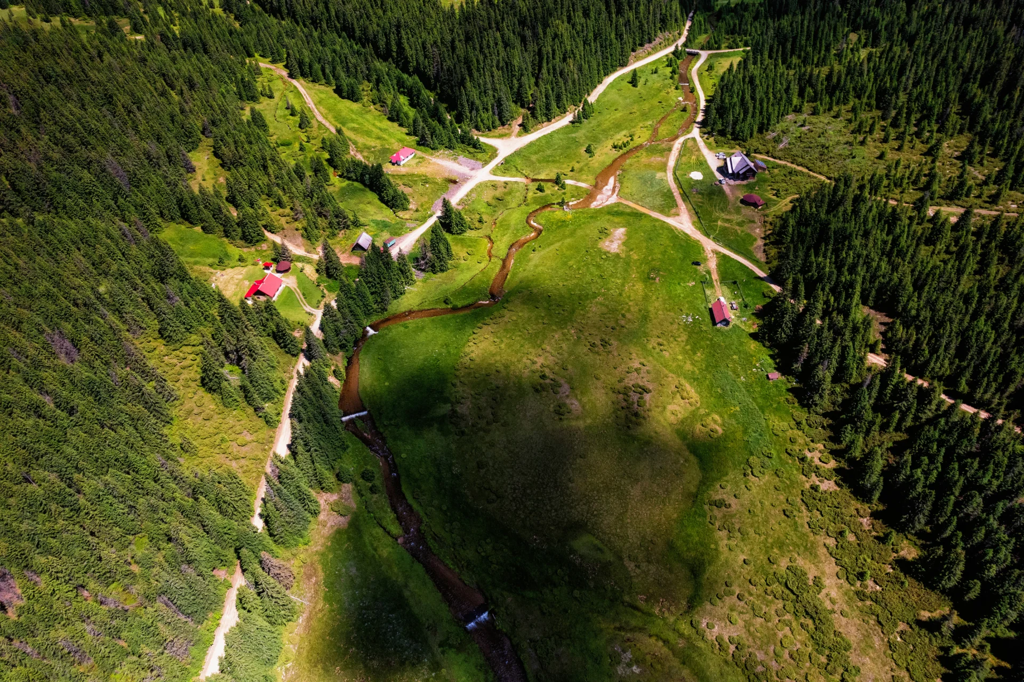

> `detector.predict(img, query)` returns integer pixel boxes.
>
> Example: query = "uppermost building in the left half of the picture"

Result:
[388,143,417,165]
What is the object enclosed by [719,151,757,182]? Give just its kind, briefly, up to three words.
building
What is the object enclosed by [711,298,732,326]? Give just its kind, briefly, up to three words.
building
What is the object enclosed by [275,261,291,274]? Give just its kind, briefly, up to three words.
gazebo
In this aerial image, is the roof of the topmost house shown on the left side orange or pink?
pink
